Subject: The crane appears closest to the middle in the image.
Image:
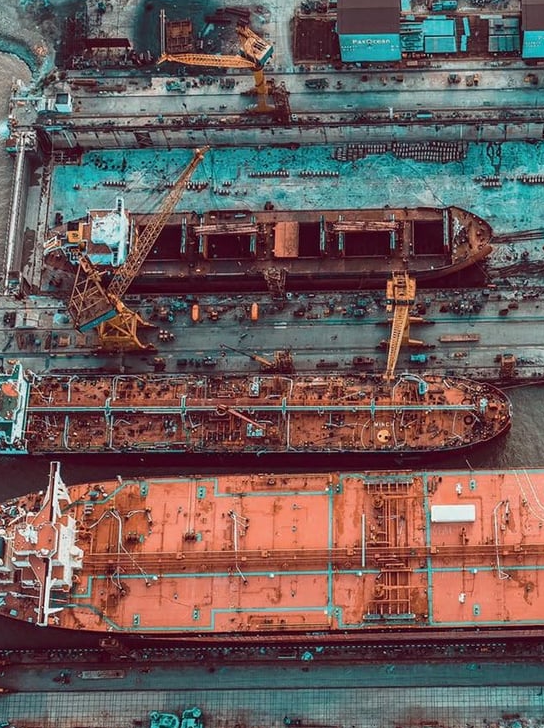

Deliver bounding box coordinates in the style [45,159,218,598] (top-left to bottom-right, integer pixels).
[225,339,295,371]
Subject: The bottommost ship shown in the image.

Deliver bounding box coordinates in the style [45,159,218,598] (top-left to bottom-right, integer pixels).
[0,460,544,648]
